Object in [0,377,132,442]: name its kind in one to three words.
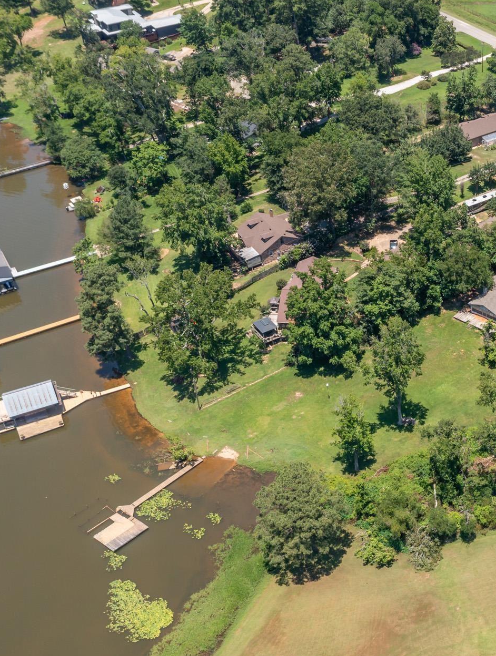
building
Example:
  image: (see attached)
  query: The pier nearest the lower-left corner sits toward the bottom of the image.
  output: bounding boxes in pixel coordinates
[78,457,204,553]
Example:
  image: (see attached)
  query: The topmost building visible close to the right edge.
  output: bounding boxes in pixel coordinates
[439,112,496,148]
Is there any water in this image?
Yes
